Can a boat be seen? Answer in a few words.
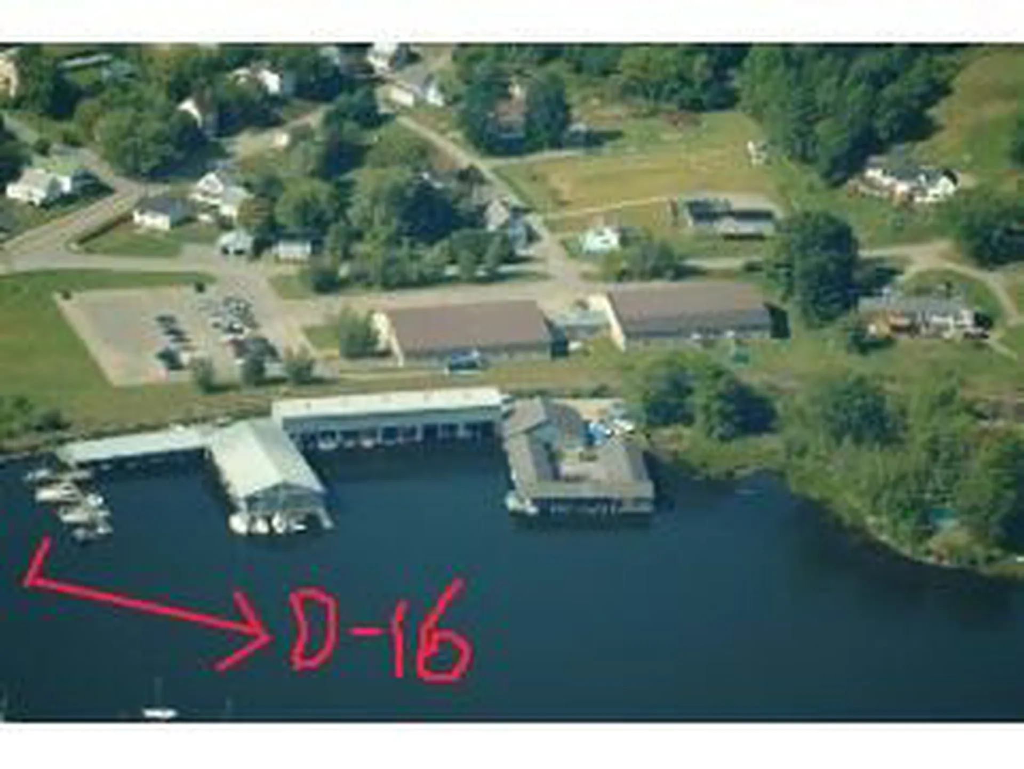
Yes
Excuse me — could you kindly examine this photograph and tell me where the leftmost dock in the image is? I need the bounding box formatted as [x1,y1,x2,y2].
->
[52,459,113,539]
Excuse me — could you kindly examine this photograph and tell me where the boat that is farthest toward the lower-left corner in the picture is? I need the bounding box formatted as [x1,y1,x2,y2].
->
[141,683,177,718]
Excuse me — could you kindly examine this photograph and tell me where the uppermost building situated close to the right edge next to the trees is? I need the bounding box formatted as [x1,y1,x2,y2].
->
[853,153,975,205]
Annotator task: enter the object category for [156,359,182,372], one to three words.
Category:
vehicle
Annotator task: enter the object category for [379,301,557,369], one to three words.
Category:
building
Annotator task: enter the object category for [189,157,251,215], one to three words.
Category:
house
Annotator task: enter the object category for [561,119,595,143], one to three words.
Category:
shed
